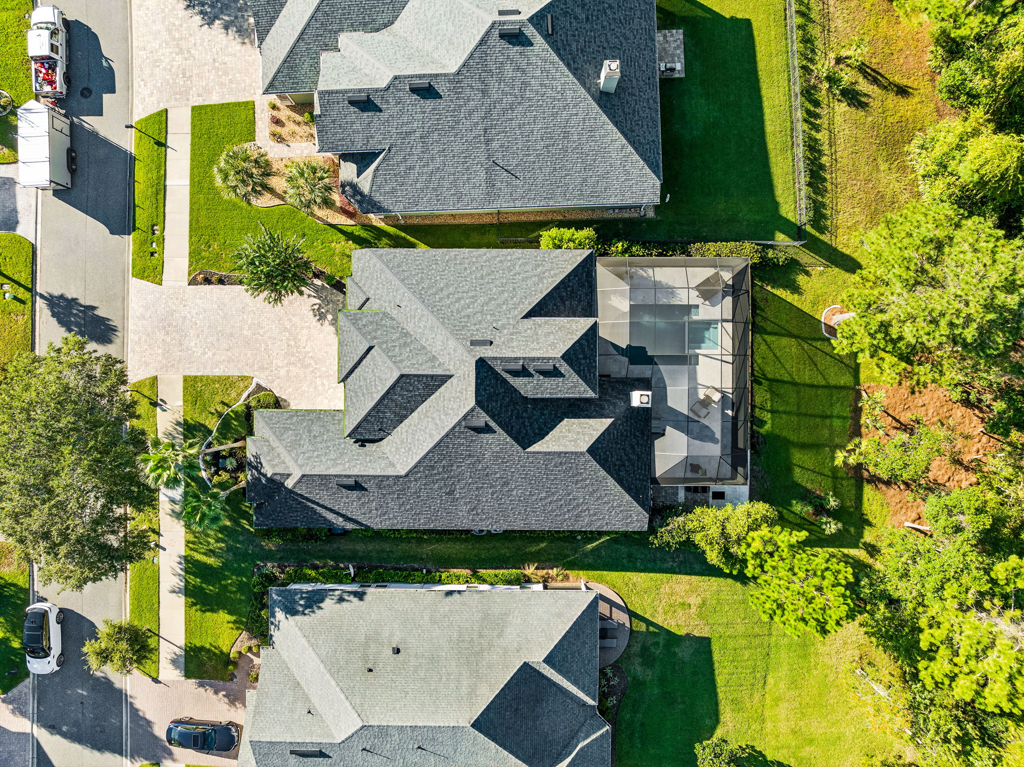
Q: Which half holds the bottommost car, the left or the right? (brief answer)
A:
left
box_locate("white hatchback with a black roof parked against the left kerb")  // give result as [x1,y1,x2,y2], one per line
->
[23,601,67,673]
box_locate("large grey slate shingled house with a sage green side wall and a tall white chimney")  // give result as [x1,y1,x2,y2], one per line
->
[250,0,663,224]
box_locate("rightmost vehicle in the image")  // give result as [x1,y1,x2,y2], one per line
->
[163,714,243,756]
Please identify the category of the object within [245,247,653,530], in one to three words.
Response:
house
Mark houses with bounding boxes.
[250,0,663,224]
[245,247,653,530]
[235,573,613,767]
